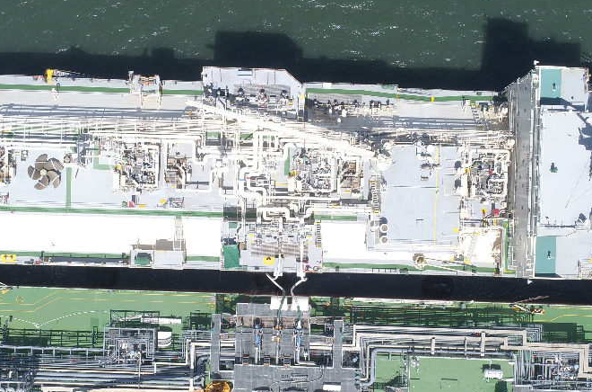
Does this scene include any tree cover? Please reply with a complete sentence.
No, the picture contains no tree cover.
